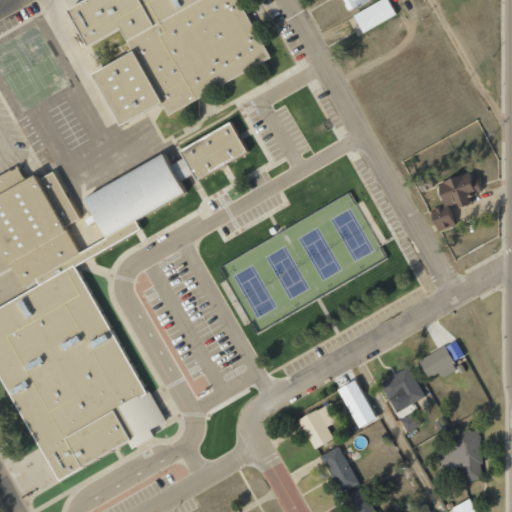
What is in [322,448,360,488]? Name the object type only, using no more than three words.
house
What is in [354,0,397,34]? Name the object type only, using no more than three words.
barn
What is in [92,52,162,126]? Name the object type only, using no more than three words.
building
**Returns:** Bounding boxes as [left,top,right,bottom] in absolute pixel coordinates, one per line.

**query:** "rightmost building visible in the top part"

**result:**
[431,172,482,232]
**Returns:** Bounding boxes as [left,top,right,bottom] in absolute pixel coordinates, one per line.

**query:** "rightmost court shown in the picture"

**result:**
[332,209,374,262]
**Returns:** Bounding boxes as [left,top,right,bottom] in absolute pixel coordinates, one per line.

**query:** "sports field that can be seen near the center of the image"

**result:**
[224,193,387,333]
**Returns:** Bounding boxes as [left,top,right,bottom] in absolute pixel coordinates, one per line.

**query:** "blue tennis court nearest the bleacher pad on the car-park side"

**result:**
[235,266,276,318]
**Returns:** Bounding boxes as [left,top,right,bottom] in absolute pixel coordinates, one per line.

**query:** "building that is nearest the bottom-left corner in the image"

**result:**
[0,266,148,482]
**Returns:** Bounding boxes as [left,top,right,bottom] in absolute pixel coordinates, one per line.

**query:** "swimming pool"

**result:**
[354,436,368,450]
